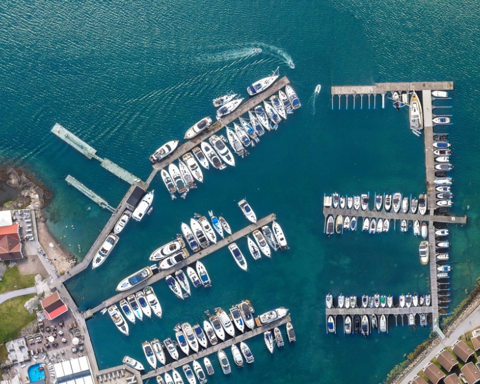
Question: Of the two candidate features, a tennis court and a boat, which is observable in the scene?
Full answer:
Looking from above, you can make out a boat.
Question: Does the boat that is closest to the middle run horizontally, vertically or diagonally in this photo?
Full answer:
In this picture, the boat that is closest to the middle is oriented diagonally.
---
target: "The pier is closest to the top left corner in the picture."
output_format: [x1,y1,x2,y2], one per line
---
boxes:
[51,123,96,160]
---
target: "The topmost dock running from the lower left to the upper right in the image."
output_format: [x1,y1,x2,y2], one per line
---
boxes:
[152,76,289,171]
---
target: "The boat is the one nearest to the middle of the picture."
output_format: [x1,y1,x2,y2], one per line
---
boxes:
[237,198,257,223]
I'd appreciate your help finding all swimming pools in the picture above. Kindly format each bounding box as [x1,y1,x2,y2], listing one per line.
[27,362,46,383]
